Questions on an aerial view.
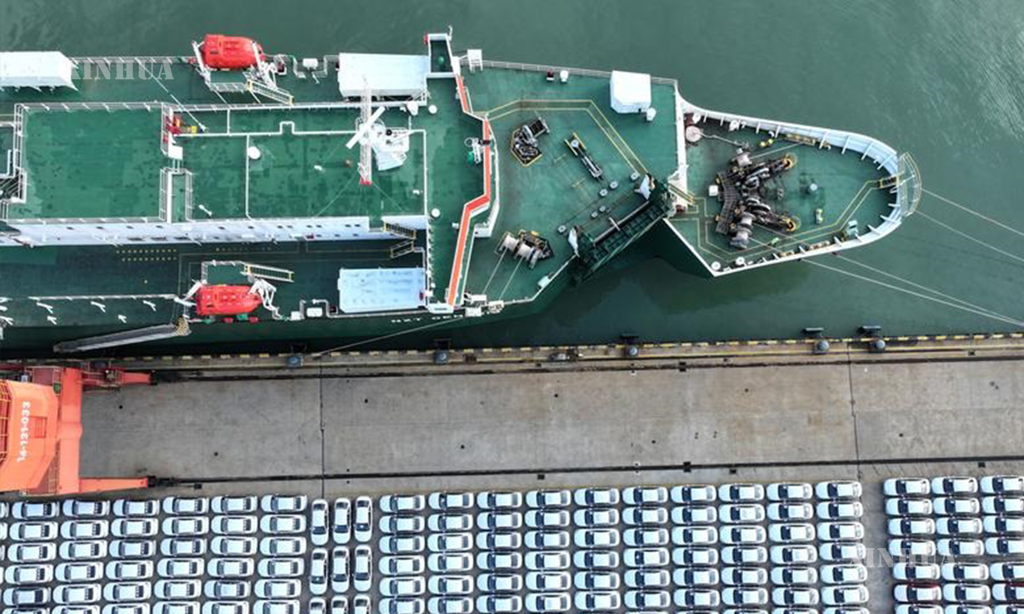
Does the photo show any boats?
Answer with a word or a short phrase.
Yes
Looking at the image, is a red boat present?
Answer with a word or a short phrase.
Yes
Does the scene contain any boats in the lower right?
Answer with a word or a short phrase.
No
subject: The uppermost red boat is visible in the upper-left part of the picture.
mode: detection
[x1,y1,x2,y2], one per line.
[203,37,267,70]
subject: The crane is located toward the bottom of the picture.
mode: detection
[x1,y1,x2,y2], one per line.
[0,365,162,496]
